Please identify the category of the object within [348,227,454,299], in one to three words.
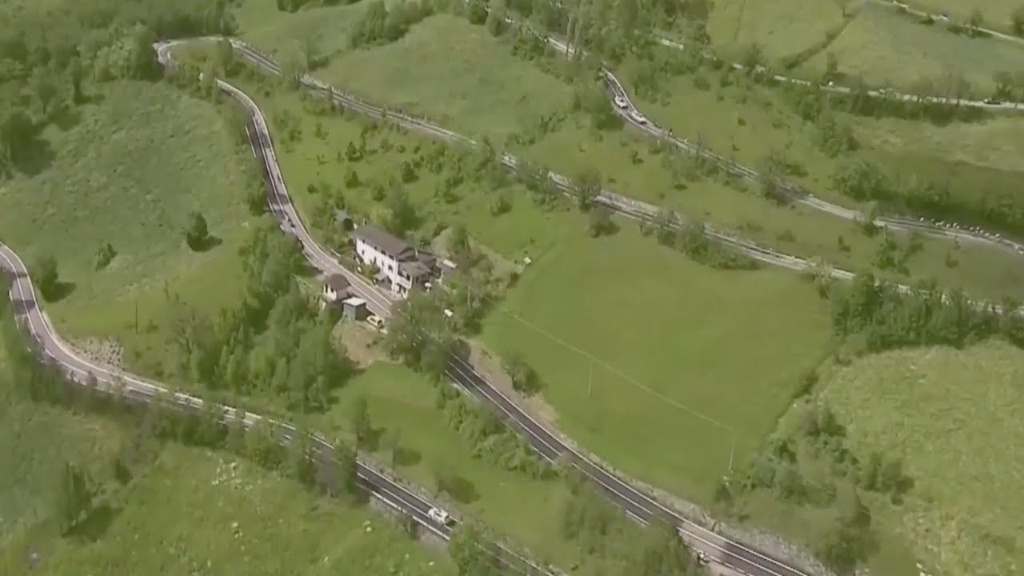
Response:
house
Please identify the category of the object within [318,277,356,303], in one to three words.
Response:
shed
